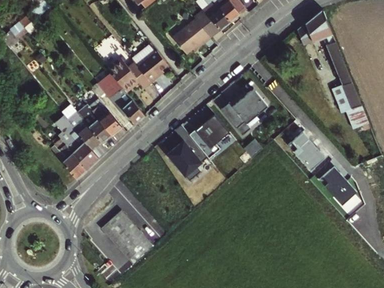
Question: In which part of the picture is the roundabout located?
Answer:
bottom left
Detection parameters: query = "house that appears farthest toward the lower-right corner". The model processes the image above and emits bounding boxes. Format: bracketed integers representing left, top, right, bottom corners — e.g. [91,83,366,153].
[319,168,356,208]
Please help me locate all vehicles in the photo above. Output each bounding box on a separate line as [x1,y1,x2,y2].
[6,228,13,239]
[246,78,256,88]
[144,226,155,238]
[43,278,54,283]
[348,214,360,222]
[220,75,230,84]
[56,201,66,210]
[20,282,32,288]
[208,86,218,96]
[195,66,205,76]
[232,64,245,76]
[150,108,160,118]
[6,201,12,212]
[266,18,276,27]
[32,202,42,210]
[106,139,116,148]
[66,240,71,251]
[70,190,80,200]
[51,215,61,224]
[2,186,10,198]
[314,60,322,70]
